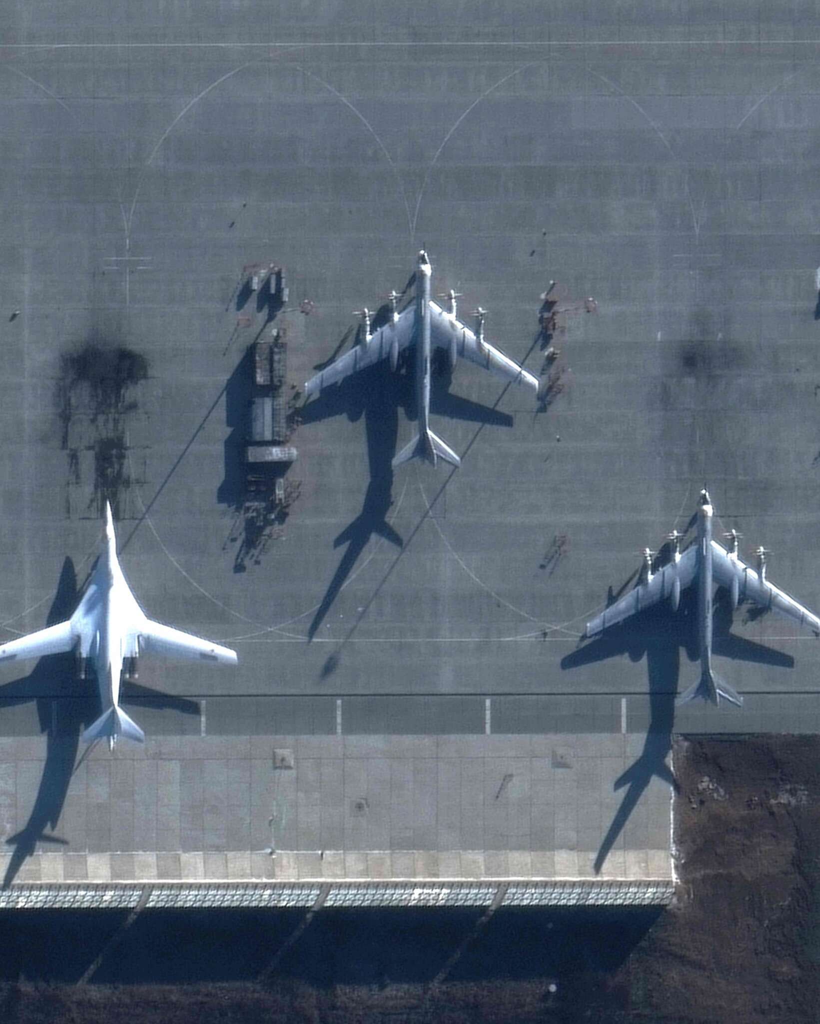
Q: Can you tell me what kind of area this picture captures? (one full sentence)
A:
The picture captures an airport.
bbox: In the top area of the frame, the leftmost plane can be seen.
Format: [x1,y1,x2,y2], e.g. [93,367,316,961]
[305,249,539,470]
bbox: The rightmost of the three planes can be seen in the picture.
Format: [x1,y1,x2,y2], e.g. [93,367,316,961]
[588,482,820,714]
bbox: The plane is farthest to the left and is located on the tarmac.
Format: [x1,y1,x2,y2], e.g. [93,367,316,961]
[0,500,237,750]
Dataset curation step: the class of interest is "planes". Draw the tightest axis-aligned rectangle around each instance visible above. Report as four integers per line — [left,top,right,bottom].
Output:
[305,249,539,470]
[0,500,237,750]
[588,482,820,714]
